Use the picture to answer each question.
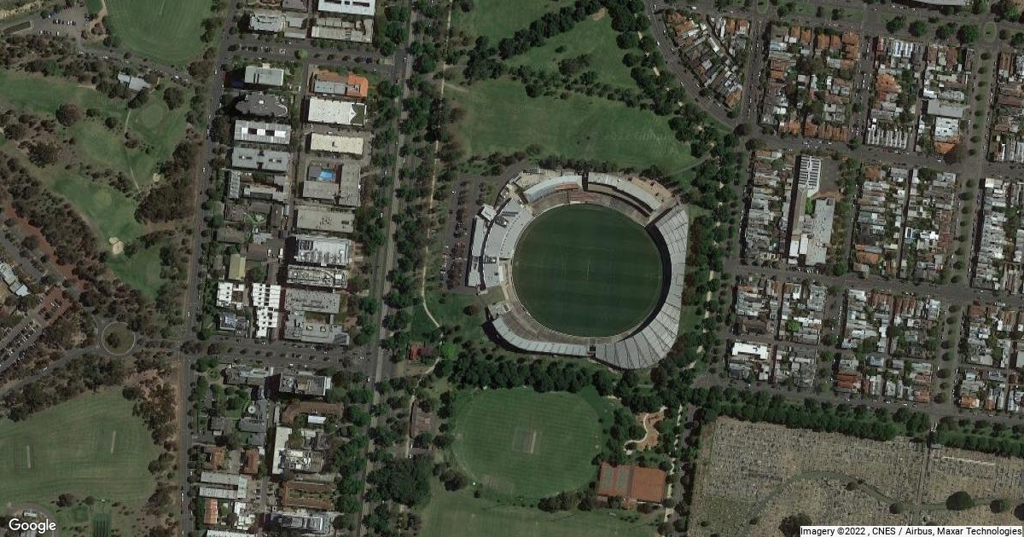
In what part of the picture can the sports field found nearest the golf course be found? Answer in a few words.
top left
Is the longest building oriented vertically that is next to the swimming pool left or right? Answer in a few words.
left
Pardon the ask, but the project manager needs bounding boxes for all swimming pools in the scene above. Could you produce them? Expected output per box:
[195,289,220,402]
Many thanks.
[307,164,339,182]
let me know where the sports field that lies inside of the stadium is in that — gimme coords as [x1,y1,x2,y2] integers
[512,204,664,337]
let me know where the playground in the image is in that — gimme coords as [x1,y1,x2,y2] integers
[624,409,664,452]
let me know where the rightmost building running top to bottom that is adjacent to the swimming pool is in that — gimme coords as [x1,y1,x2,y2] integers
[339,165,360,206]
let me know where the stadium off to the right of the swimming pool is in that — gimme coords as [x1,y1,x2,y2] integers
[468,167,691,372]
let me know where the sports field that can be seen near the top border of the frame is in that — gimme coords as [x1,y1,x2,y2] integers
[105,0,212,65]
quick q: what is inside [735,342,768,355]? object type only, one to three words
building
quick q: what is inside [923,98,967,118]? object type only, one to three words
house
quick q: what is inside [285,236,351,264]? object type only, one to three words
building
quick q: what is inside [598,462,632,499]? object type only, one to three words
tennis court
